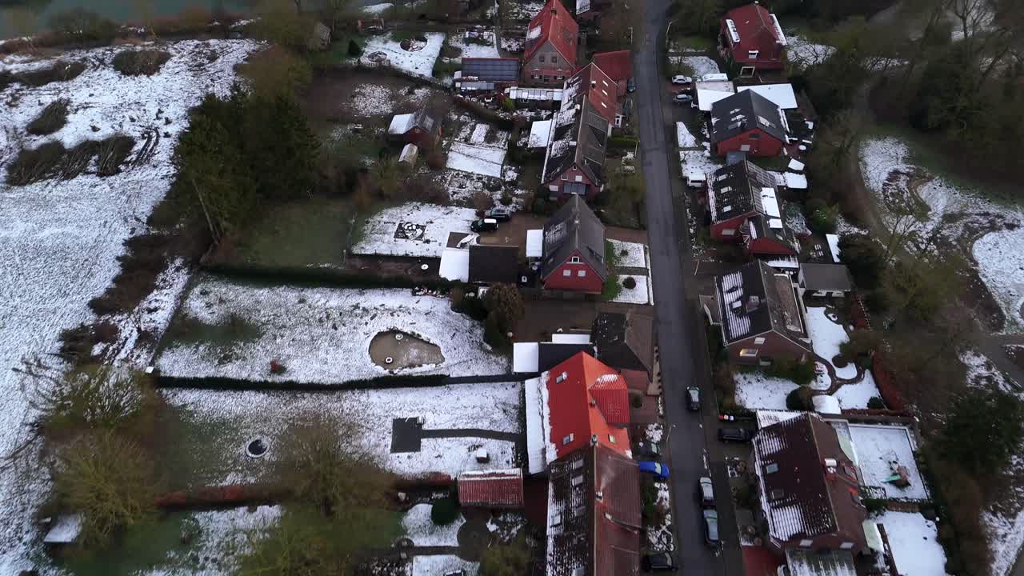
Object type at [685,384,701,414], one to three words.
car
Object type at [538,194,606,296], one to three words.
house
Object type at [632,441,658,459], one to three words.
car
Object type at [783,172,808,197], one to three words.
shed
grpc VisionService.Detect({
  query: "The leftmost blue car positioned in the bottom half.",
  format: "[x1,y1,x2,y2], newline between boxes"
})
[637,461,670,479]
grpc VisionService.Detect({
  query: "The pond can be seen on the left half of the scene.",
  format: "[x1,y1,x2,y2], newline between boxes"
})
[370,330,445,371]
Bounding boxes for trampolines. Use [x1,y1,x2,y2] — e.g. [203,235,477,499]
[244,435,269,457]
